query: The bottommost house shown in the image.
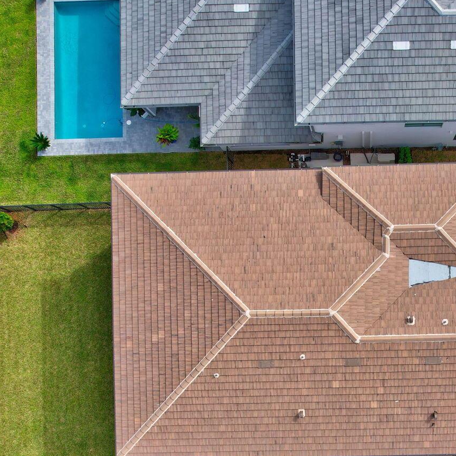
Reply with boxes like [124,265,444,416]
[110,161,456,456]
